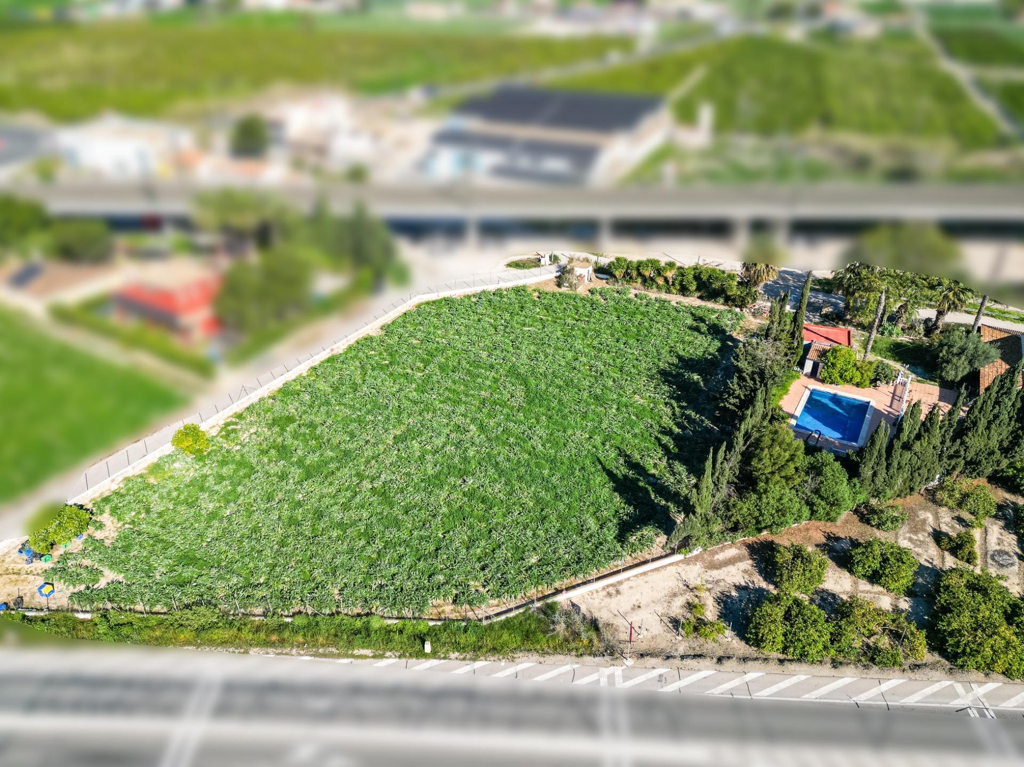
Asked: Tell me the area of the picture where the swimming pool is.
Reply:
right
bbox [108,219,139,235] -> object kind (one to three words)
vehicle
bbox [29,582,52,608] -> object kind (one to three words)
umbrella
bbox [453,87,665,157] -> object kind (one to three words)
building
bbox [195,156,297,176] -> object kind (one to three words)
house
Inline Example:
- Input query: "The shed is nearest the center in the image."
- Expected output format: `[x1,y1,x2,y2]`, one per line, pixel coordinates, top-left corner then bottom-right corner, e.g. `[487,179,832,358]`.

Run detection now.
[572,263,591,285]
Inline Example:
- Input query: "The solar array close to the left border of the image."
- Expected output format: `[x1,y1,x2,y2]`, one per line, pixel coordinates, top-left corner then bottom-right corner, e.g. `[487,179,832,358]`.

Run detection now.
[5,263,43,287]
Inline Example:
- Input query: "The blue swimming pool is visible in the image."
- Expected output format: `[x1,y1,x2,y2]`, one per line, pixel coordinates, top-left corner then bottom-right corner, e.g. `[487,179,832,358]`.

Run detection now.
[787,386,878,449]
